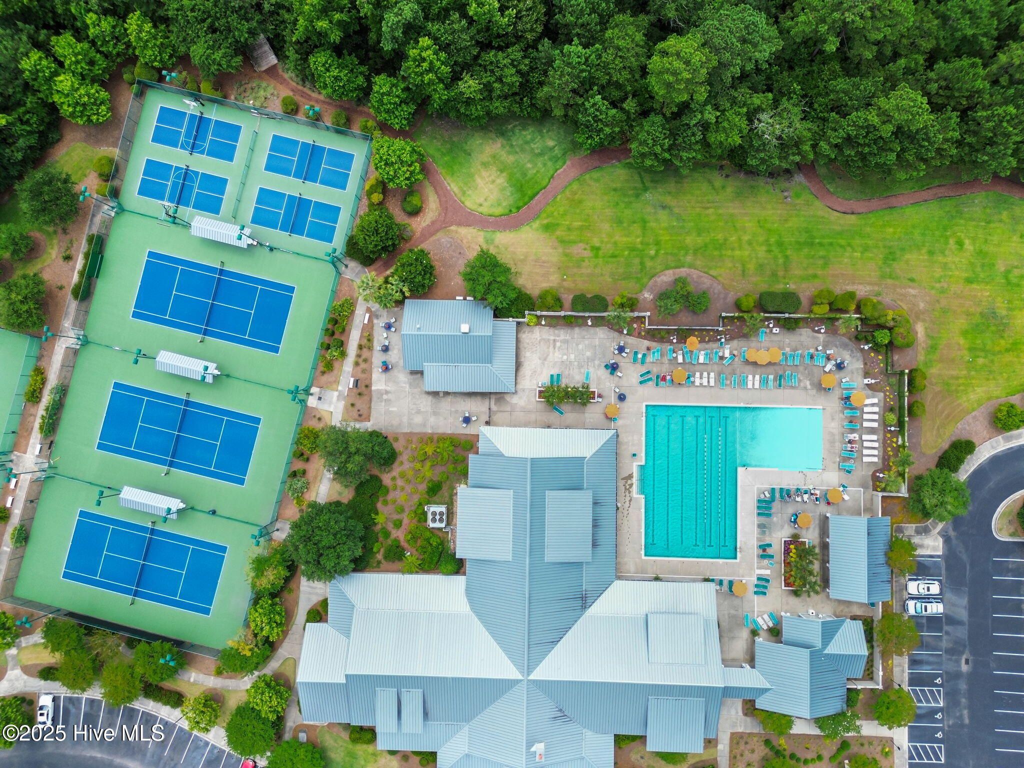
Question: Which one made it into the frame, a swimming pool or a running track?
swimming pool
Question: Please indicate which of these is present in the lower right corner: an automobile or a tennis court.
automobile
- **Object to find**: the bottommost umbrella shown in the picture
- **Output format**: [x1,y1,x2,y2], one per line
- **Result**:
[733,582,747,596]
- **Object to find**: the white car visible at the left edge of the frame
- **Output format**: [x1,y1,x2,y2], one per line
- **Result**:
[38,693,57,726]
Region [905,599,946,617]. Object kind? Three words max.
car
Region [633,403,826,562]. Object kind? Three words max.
swimming pool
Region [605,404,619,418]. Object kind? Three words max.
umbrella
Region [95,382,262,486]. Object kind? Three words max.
tennis court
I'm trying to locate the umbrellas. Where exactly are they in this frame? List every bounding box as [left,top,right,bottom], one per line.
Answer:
[686,337,699,350]
[850,391,866,406]
[605,404,619,418]
[827,488,843,503]
[796,513,812,528]
[733,582,747,596]
[768,348,782,362]
[745,348,758,362]
[756,351,770,364]
[821,373,836,388]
